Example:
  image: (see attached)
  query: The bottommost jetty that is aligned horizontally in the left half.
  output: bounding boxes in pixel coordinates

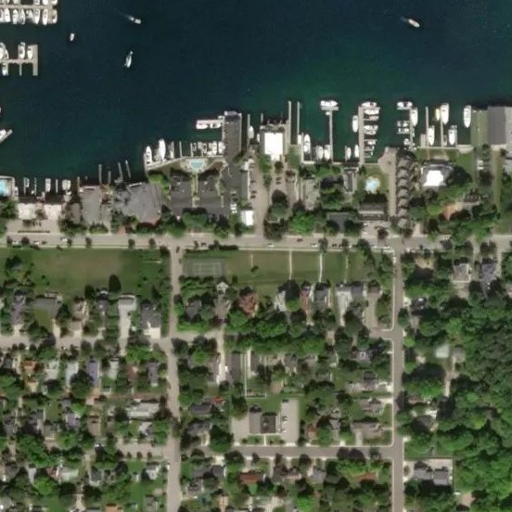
[143,141,217,170]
